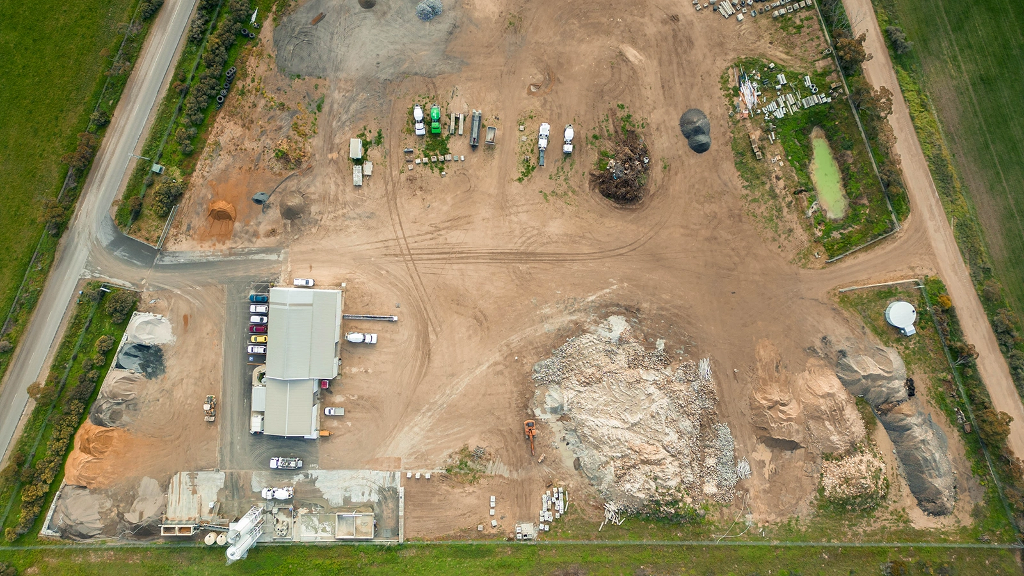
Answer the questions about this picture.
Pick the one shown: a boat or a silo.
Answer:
silo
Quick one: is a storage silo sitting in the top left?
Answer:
No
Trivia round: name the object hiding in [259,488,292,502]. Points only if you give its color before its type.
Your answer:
white vehicle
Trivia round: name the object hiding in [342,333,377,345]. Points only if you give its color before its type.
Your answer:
white vehicle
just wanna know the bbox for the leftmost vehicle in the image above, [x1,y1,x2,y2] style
[202,394,216,420]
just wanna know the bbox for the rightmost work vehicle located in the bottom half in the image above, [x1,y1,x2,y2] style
[524,419,536,456]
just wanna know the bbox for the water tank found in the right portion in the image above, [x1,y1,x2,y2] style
[883,301,916,329]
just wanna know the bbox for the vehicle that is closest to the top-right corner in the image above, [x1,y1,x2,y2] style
[562,120,574,154]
